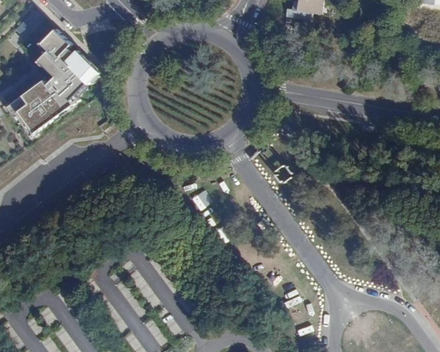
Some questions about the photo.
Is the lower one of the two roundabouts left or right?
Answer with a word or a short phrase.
right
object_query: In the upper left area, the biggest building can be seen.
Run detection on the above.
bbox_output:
[14,28,104,136]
